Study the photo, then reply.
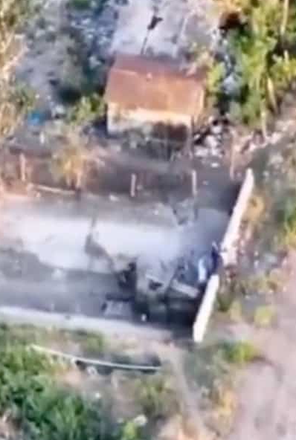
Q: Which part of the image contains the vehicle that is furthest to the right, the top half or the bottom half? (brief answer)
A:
bottom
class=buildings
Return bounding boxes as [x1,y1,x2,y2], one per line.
[94,0,222,62]
[104,64,205,146]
